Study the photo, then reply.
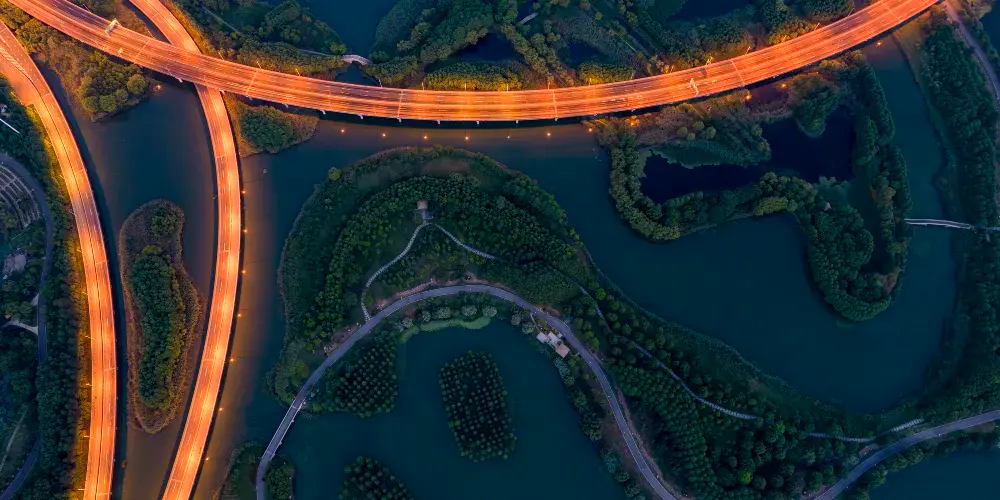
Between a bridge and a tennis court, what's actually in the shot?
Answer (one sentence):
Visible in the photo is a bridge.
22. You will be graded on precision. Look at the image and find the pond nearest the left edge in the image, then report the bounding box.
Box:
[450,27,525,69]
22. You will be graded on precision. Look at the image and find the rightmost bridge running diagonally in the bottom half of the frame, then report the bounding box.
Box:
[265,387,308,450]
